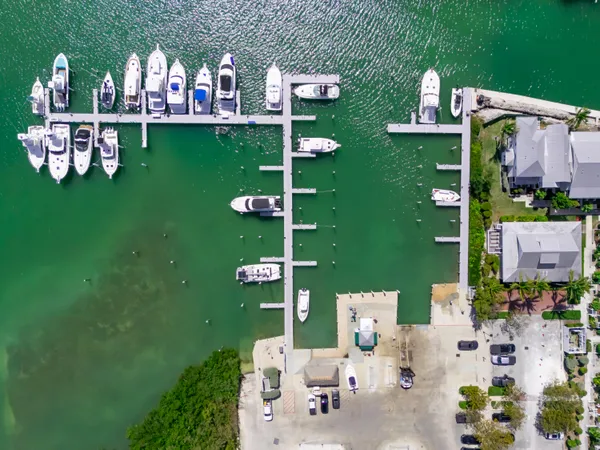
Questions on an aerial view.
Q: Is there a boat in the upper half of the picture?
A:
Yes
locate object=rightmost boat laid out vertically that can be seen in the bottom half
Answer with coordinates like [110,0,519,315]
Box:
[343,361,359,394]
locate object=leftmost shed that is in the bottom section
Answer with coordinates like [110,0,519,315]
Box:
[304,363,339,387]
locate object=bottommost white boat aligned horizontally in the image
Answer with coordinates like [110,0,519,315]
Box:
[237,262,282,282]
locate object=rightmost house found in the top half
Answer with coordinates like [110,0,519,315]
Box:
[557,133,600,200]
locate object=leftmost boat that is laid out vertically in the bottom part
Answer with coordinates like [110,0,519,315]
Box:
[297,287,310,323]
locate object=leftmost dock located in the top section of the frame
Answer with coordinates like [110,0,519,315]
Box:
[45,88,283,148]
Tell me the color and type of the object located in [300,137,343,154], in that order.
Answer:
white boat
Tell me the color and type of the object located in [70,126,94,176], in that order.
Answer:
white boat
